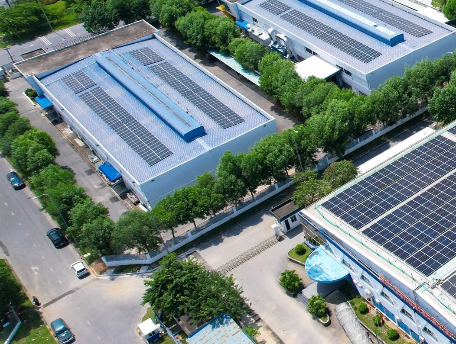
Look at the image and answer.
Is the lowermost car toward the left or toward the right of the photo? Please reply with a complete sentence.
The lowermost car is on the left side of the image.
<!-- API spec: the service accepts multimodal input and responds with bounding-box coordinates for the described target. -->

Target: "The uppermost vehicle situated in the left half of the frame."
[2,169,25,188]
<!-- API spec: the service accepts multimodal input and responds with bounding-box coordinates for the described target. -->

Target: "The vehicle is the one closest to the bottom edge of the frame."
[45,312,76,344]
